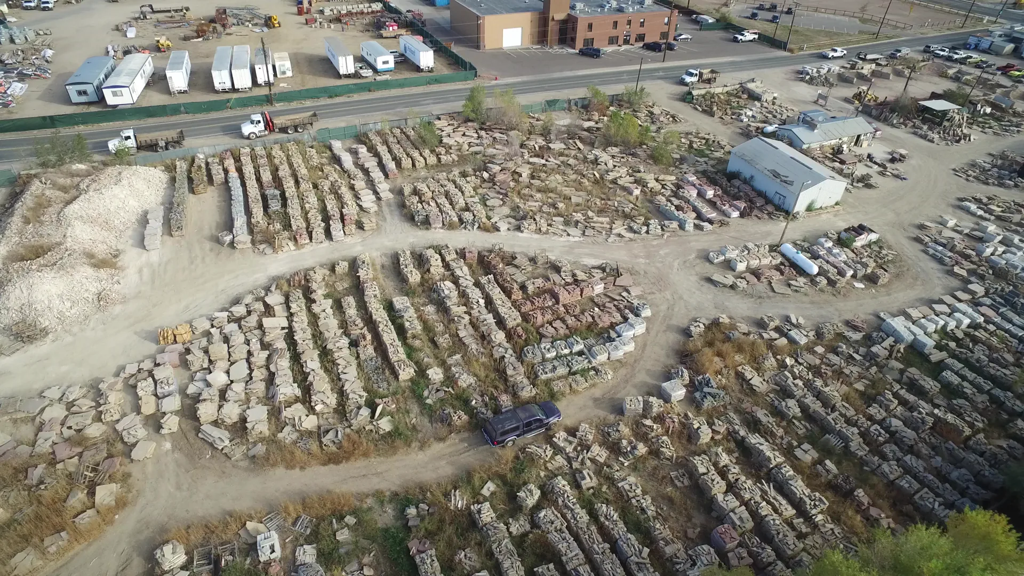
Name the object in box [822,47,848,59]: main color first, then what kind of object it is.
white vehicle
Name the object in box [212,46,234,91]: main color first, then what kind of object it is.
white trailer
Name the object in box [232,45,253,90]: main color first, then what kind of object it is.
white trailer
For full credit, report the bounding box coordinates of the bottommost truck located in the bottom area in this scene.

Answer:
[483,400,566,447]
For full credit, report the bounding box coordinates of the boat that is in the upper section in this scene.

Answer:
[356,60,371,73]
